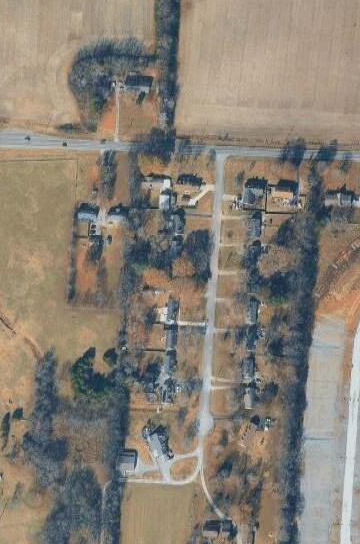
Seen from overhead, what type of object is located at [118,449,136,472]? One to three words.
barn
